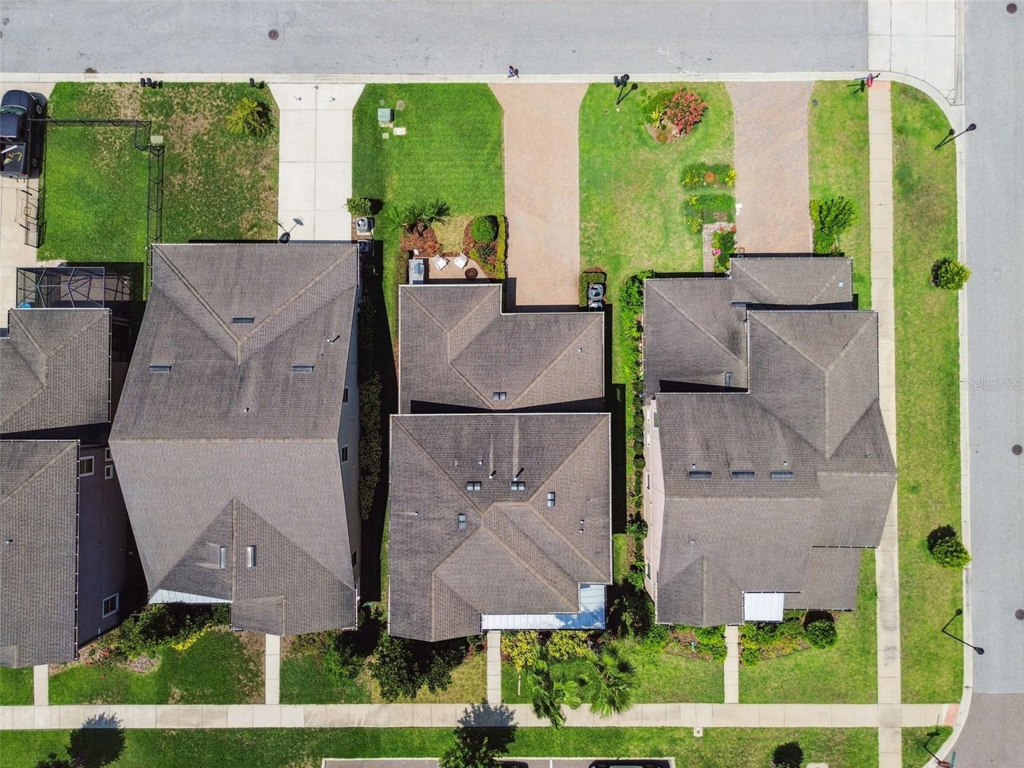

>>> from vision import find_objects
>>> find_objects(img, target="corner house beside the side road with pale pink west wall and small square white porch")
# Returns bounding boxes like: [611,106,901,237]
[642,256,897,629]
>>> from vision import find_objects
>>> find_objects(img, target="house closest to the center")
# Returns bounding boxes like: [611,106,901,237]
[386,283,612,641]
